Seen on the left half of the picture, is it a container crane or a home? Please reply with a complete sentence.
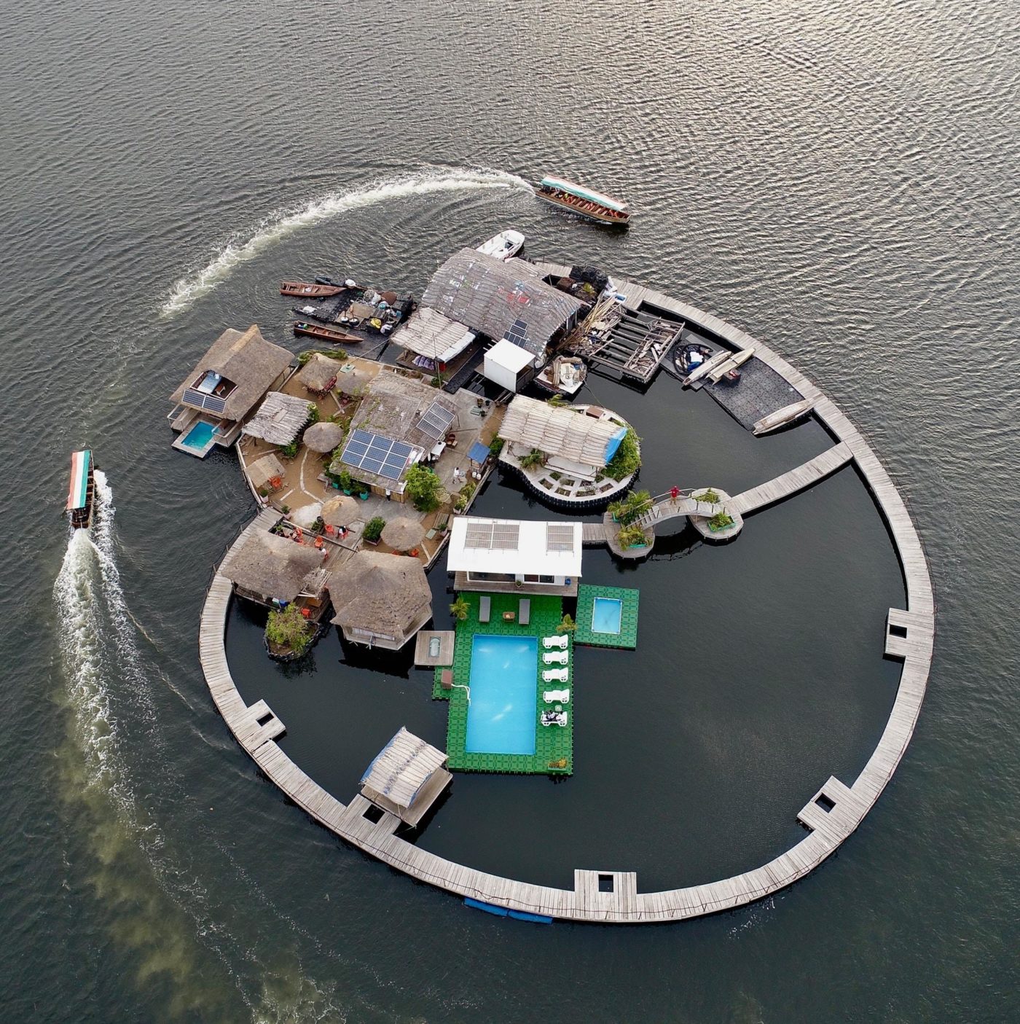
You can see a home on the left half of the picture.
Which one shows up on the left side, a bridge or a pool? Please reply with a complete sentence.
There is a pool on the left side.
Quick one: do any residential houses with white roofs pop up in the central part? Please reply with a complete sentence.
Yes, I can see a residential house with a white roof in the central part.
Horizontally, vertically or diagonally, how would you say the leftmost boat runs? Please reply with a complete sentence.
The leftmost boat is laid out vertically.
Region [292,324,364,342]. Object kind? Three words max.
boat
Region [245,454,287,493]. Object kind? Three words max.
shed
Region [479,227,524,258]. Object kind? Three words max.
boat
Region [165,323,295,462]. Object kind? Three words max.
house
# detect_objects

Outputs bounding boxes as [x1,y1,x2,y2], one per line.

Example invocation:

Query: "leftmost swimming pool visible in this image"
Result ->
[181,422,220,452]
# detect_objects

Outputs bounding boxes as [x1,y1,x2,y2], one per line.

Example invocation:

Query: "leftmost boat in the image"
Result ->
[63,445,97,533]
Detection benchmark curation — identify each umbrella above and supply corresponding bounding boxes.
[313,496,365,536]
[327,367,376,402]
[375,517,431,558]
[300,421,346,458]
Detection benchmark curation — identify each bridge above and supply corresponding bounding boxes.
[628,490,720,534]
